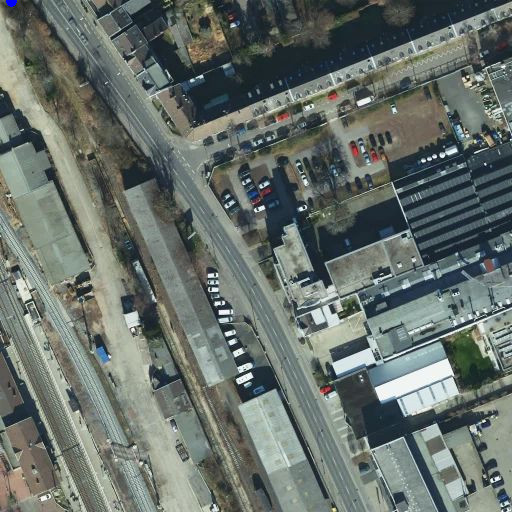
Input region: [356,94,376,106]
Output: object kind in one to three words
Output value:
vehicle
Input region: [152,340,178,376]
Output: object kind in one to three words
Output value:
shed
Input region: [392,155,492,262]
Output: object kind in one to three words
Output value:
building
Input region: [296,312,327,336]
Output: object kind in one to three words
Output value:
house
